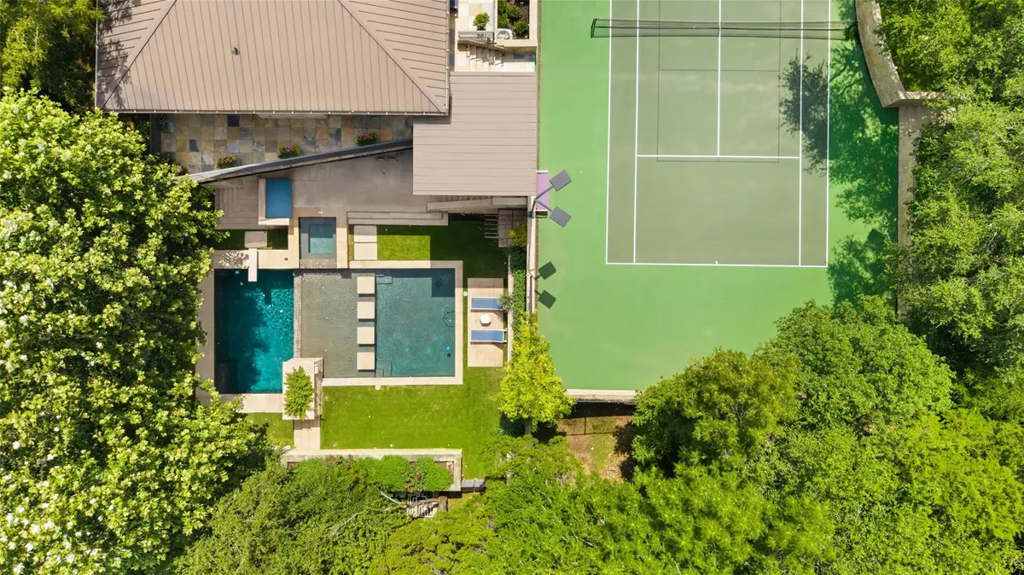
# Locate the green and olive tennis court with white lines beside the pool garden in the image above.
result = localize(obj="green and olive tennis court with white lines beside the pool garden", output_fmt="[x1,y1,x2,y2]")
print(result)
[540,0,899,390]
